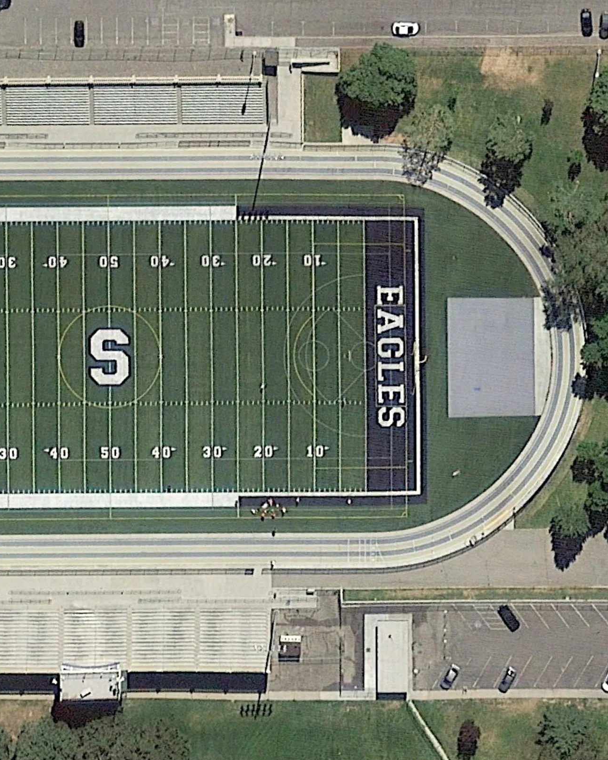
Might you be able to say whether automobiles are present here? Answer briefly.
Yes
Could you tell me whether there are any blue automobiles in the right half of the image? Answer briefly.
No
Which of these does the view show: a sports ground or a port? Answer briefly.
sports ground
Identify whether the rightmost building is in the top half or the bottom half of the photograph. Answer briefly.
bottom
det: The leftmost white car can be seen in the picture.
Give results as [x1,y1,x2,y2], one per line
[392,23,419,38]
